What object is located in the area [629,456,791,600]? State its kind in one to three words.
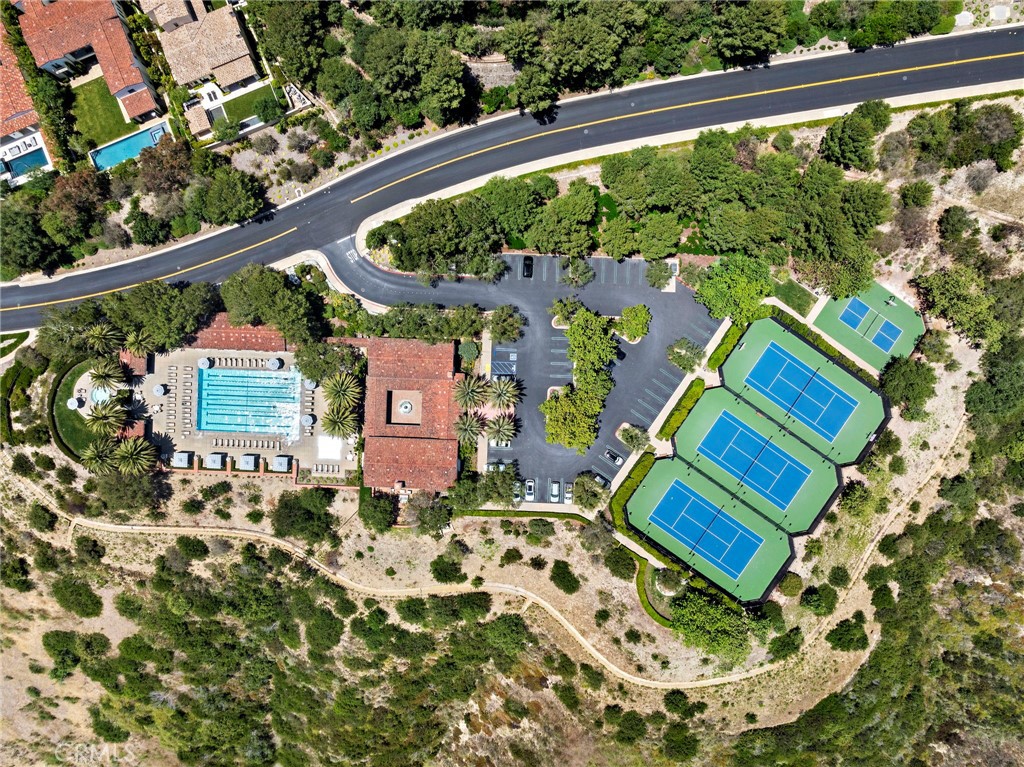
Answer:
tennis court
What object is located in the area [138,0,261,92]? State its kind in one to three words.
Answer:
house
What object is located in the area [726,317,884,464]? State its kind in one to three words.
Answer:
tennis court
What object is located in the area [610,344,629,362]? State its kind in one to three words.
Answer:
car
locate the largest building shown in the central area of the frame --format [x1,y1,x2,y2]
[360,337,465,488]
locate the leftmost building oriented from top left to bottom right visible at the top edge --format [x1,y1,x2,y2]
[14,0,163,122]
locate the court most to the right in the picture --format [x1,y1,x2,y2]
[814,270,925,377]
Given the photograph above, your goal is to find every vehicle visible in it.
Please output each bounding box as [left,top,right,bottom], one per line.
[564,482,574,504]
[490,439,511,448]
[606,360,616,370]
[610,344,629,362]
[484,463,505,472]
[490,373,511,382]
[596,473,614,490]
[513,481,522,502]
[550,480,560,502]
[524,256,532,278]
[525,479,535,500]
[604,448,624,465]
